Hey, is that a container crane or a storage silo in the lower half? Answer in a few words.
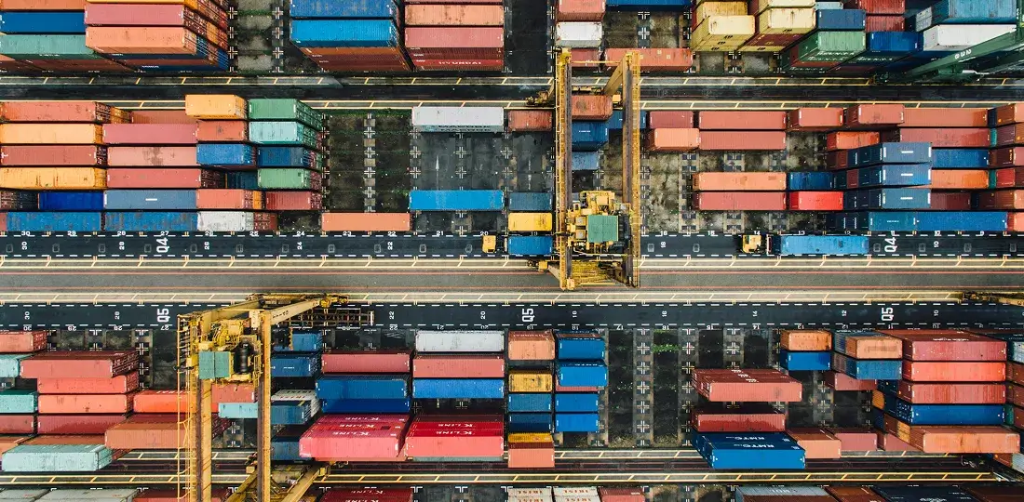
container crane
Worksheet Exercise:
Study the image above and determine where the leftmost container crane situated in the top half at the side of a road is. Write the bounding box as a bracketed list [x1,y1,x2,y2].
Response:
[520,49,643,289]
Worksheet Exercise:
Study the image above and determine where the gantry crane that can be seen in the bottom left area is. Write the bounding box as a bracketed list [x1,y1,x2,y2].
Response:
[175,294,340,502]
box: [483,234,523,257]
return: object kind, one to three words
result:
truck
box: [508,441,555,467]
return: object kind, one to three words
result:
shipping container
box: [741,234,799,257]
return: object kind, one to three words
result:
truck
